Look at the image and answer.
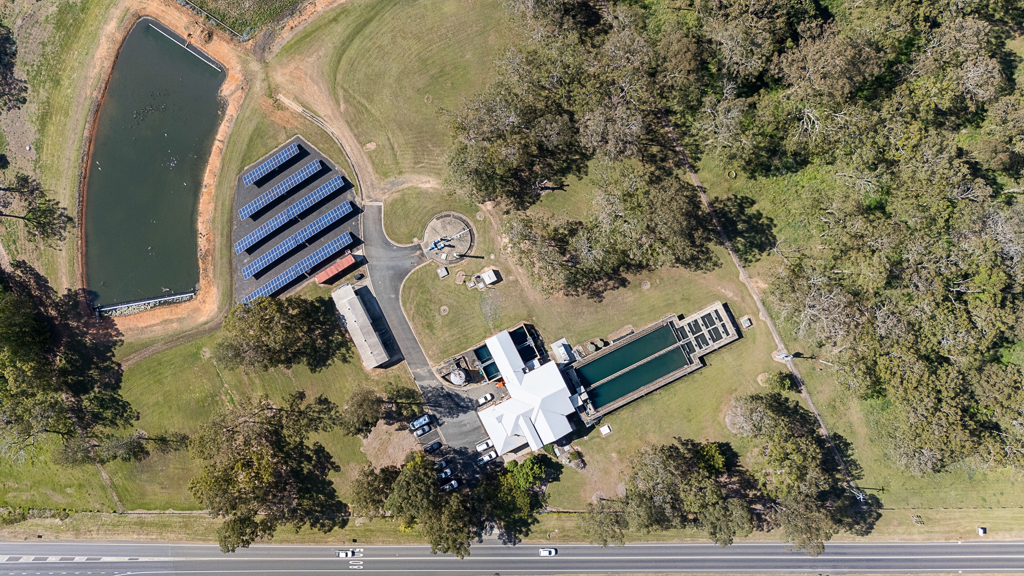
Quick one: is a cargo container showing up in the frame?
Yes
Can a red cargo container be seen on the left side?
Yes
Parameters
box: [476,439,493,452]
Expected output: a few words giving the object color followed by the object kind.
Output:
white vehicle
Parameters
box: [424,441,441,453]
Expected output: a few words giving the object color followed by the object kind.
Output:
black vehicle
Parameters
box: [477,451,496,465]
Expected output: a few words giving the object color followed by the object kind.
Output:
white vehicle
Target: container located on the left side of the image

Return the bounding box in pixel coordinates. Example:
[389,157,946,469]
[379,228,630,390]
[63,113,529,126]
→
[315,254,358,284]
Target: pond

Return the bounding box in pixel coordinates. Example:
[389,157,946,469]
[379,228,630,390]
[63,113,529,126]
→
[84,17,228,319]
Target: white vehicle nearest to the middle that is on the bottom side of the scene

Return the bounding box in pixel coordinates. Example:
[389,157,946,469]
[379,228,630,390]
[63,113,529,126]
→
[474,392,493,406]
